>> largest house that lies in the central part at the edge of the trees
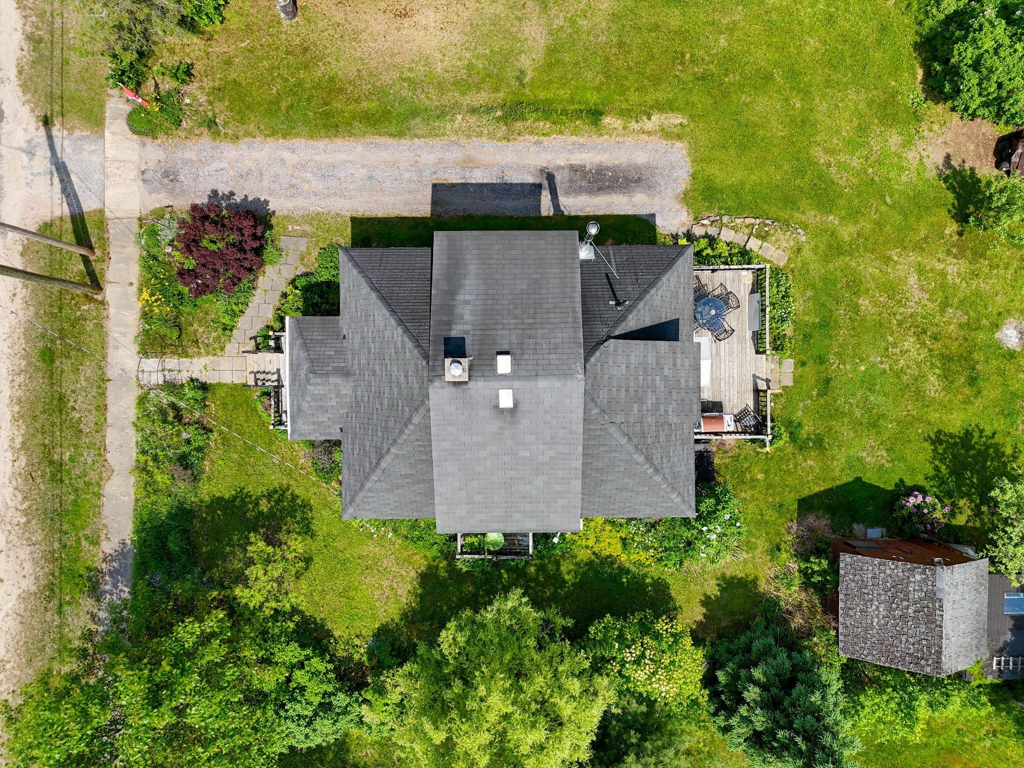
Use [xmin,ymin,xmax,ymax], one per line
[285,221,702,544]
